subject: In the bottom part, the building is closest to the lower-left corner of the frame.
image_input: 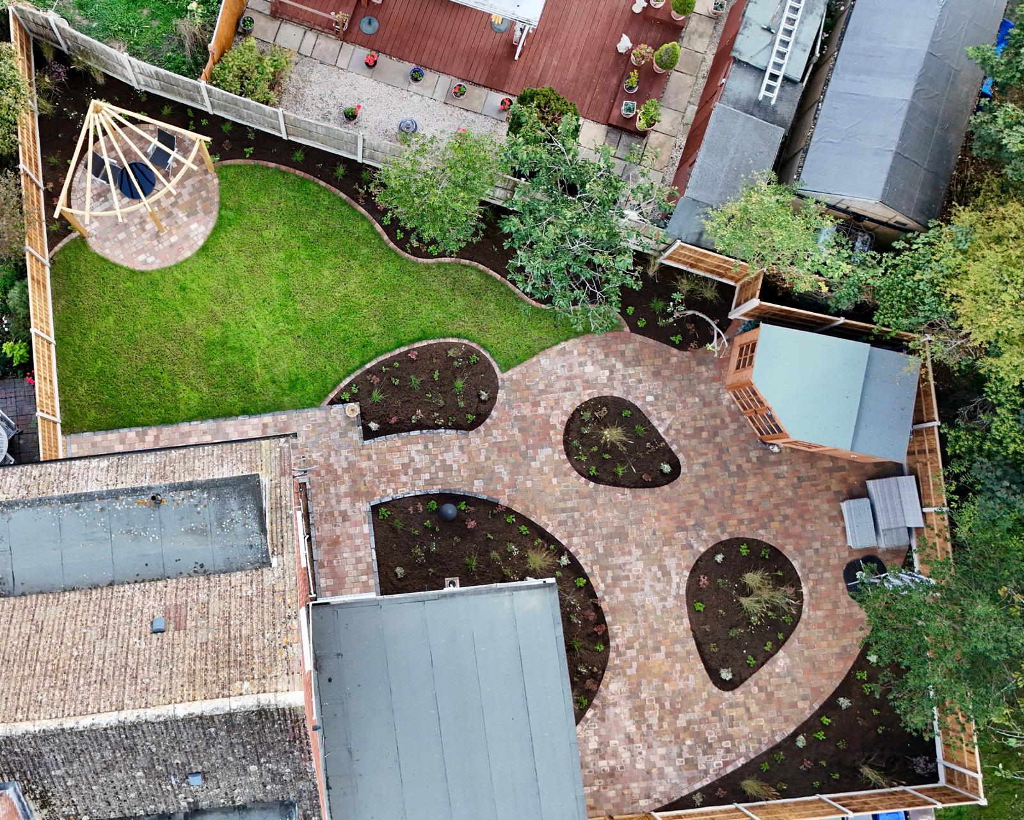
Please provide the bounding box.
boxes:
[0,432,330,820]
